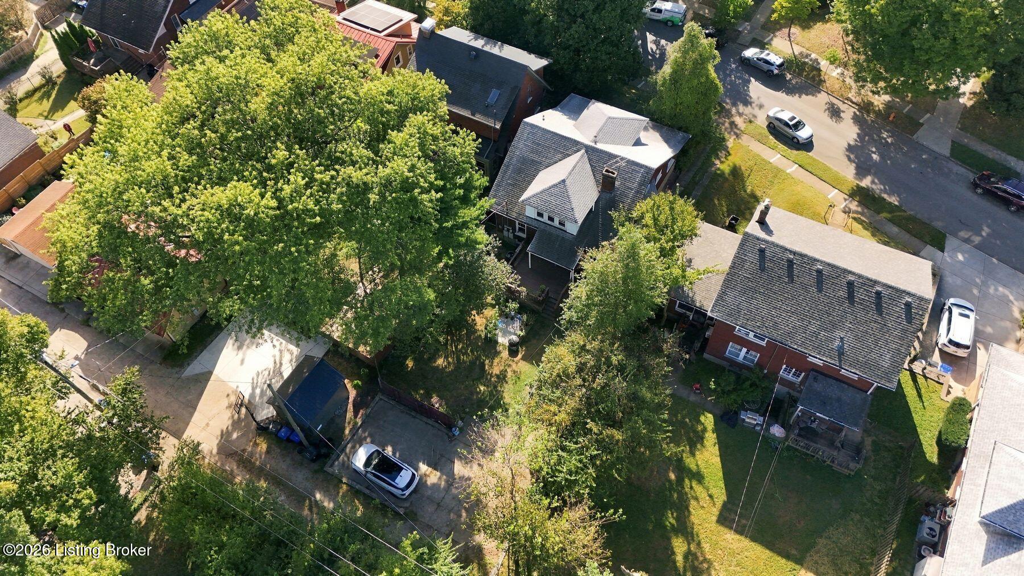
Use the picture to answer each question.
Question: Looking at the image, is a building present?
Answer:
Yes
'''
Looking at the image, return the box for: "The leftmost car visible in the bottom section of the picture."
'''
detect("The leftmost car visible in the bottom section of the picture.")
[346,444,422,501]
